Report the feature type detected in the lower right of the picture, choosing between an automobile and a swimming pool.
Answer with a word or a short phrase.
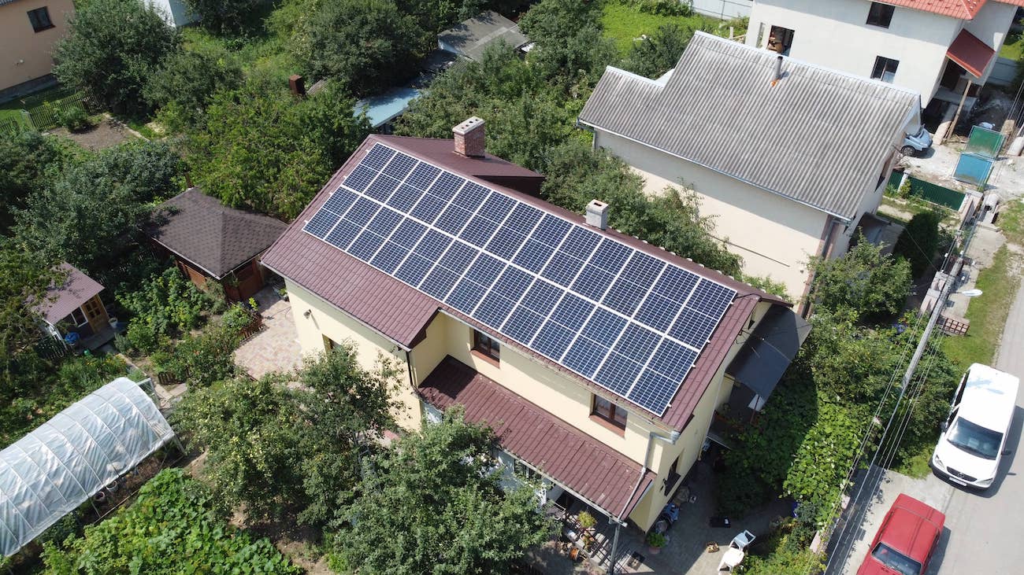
automobile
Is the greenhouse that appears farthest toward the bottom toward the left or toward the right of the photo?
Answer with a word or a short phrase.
left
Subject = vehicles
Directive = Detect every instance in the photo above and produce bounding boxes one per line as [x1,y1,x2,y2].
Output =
[856,491,946,575]
[902,131,934,157]
[926,359,1021,486]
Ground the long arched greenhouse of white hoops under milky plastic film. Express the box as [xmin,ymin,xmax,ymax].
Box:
[0,371,183,575]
